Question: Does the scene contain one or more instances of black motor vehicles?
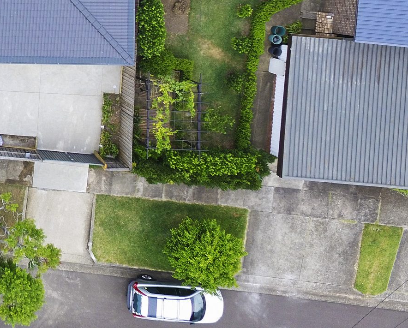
No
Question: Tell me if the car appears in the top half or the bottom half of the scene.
bottom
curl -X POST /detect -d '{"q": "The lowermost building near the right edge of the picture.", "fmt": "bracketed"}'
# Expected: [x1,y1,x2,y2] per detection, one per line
[263,35,408,192]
